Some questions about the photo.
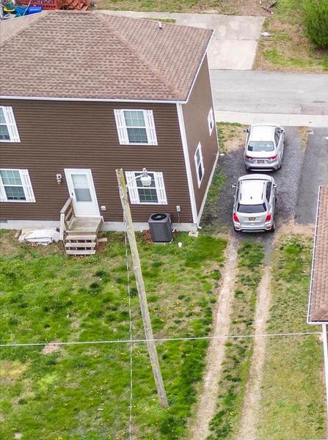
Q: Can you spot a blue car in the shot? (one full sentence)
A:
No, the photo shows no blue car.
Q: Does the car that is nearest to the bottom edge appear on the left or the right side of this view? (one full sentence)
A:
The car that is nearest to the bottom edge is on the right side of the image.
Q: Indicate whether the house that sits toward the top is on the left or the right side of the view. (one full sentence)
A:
It is on the left.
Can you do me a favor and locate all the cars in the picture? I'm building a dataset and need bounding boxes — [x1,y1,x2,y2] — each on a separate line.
[243,118,291,165]
[233,168,283,224]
